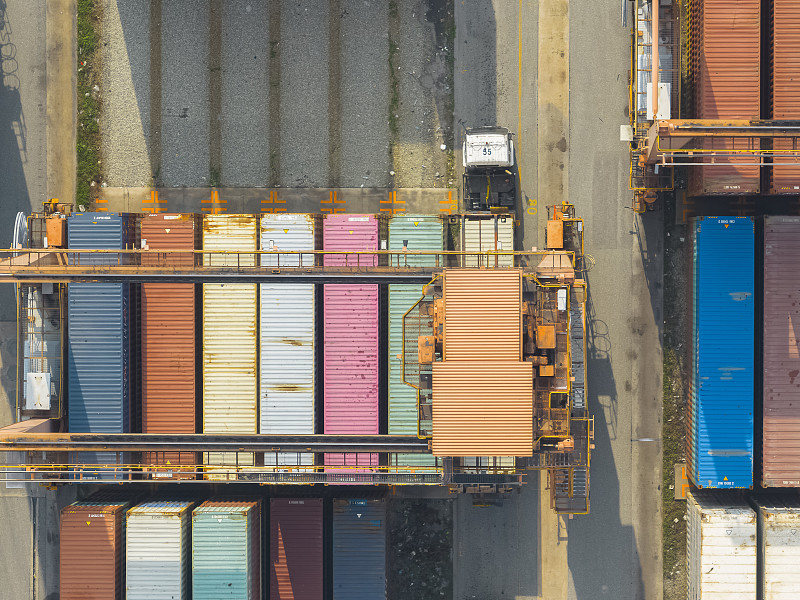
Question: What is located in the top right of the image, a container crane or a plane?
container crane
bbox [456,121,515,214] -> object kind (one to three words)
truck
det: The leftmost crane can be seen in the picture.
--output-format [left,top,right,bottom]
[0,192,595,520]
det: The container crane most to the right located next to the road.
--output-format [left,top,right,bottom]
[616,0,800,227]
